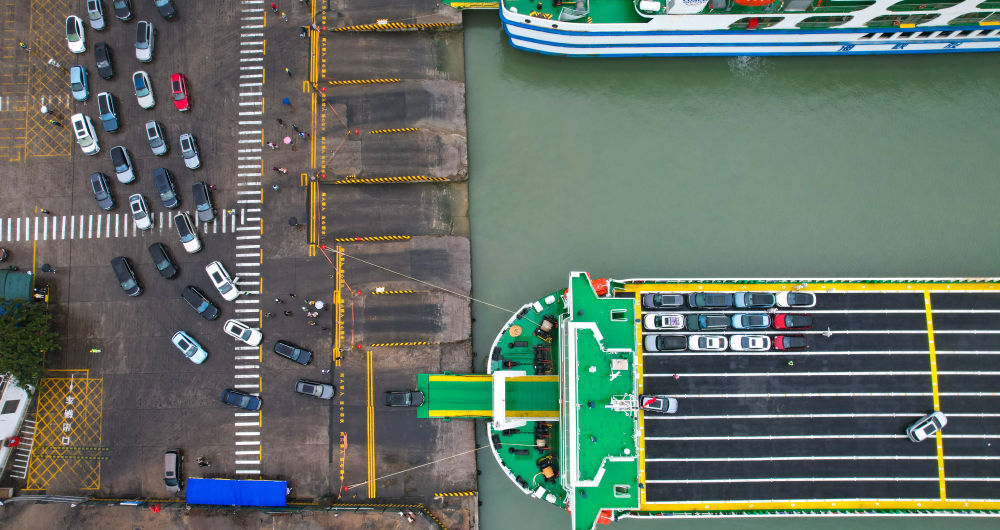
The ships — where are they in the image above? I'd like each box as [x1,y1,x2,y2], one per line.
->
[417,271,1000,530]
[443,0,1000,58]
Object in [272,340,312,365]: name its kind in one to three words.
car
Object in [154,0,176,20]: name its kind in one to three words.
car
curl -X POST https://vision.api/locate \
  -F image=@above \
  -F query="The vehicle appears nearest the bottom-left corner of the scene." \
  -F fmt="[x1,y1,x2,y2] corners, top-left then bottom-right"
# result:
[162,451,184,491]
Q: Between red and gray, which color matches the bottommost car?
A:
gray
